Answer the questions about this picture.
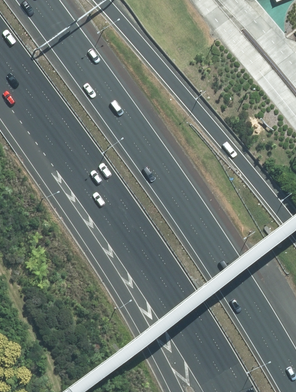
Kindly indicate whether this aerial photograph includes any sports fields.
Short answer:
No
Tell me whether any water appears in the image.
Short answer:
No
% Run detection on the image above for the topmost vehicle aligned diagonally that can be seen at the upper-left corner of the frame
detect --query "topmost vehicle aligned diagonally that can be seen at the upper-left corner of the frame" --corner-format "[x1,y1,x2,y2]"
[21,0,34,16]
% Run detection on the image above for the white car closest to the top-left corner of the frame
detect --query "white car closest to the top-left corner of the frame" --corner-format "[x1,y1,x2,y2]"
[3,29,16,45]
